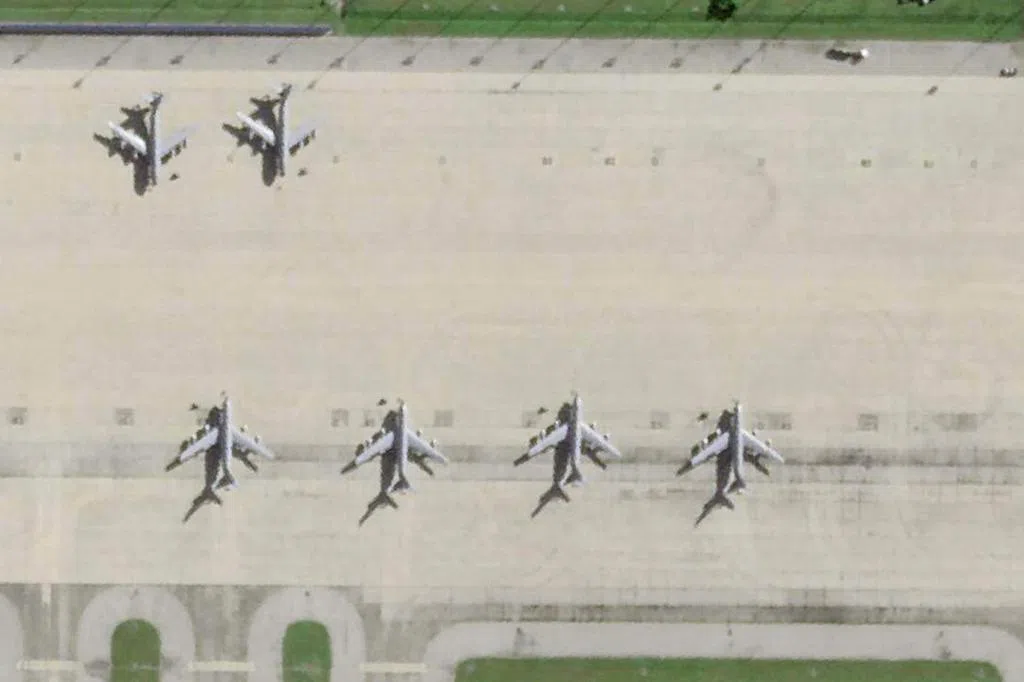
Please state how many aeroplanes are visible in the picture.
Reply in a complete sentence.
The number of aeroplanes here is 6.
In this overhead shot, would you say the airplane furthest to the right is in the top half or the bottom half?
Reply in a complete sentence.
The airplane furthest to the right sits in the bottom half of the picture.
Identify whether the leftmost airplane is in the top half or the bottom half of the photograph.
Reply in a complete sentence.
The leftmost airplane sits in the top half of the picture.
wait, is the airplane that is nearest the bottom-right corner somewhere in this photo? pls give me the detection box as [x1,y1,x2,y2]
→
[693,403,783,496]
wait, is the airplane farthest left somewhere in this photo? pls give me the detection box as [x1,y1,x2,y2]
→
[110,92,201,186]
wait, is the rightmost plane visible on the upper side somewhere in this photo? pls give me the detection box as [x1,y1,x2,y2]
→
[239,83,330,176]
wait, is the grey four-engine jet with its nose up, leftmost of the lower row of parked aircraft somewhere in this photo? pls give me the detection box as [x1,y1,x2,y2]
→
[181,397,272,490]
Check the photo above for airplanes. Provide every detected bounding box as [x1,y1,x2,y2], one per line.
[110,92,201,186]
[239,83,330,176]
[358,402,448,495]
[532,396,622,488]
[181,397,272,490]
[693,403,783,496]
